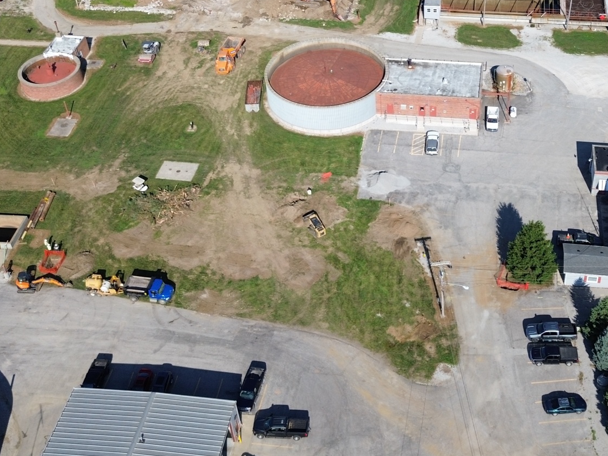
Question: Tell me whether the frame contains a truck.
Yes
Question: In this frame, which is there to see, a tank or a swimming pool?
tank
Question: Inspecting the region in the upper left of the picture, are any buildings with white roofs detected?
Yes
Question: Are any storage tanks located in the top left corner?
Yes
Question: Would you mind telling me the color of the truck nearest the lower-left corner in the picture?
black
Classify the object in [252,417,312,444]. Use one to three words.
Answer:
truck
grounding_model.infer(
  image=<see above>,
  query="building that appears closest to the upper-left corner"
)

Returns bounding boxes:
[43,16,92,66]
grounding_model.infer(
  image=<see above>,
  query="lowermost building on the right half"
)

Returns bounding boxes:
[564,243,608,288]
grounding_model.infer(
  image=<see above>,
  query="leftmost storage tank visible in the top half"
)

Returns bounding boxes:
[18,54,86,103]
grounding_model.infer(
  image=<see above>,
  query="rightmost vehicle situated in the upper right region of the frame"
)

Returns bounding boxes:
[485,104,502,133]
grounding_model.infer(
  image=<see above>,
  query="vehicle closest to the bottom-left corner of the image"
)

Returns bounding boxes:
[79,354,113,389]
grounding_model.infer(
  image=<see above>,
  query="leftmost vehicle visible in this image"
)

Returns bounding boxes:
[13,274,77,297]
